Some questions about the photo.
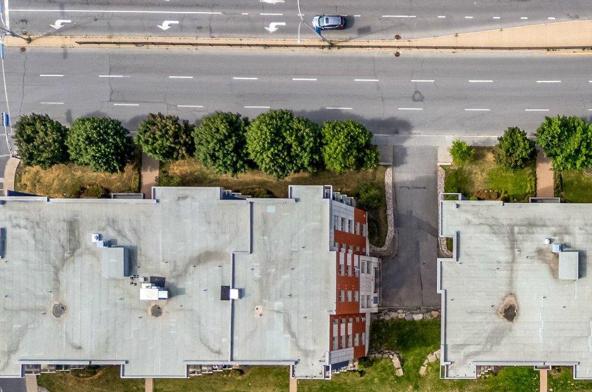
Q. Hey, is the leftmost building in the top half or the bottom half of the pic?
bottom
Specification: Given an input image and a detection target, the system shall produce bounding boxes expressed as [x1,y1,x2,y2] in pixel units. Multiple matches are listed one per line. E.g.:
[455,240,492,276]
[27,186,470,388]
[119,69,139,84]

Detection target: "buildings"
[437,192,592,379]
[0,186,384,379]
